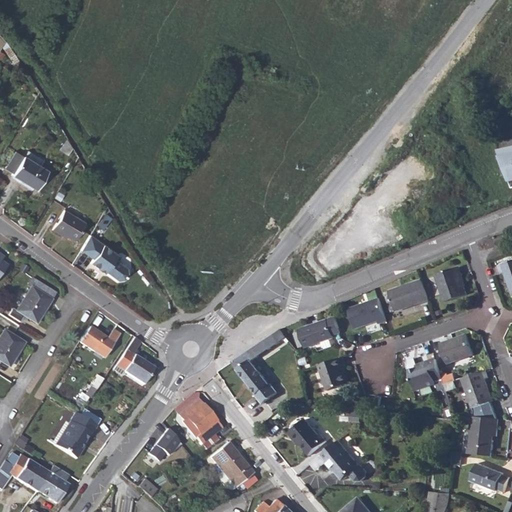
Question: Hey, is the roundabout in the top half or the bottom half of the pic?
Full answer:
The roundabout is in the bottom half of the image.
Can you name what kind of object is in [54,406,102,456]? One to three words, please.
house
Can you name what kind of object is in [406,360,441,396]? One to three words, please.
house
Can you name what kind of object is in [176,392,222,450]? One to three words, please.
building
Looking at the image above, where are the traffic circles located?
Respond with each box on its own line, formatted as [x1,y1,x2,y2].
[166,322,219,384]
